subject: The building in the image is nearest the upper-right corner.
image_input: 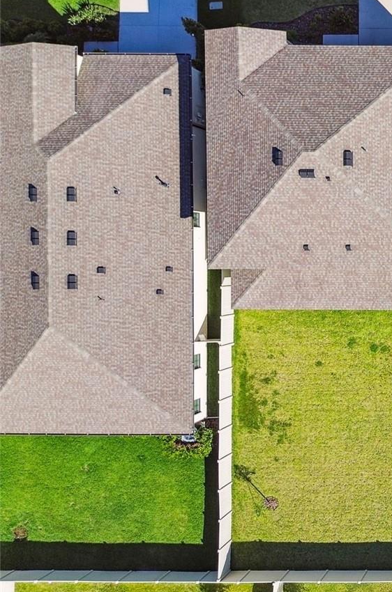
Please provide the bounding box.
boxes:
[204,25,392,310]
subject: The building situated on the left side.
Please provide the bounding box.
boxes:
[0,41,206,435]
